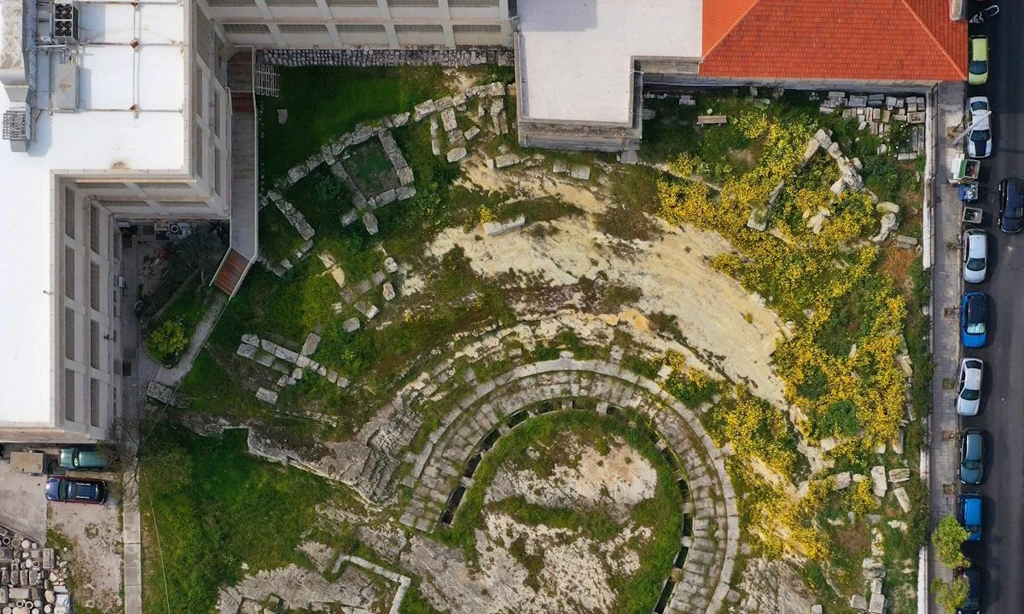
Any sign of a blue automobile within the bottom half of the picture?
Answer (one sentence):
Yes, a blue automobile is visible within the bottom half of the picture.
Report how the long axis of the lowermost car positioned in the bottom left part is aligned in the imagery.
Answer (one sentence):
From this overhead view, the lowermost car positioned in the bottom left part appears to run horizontally.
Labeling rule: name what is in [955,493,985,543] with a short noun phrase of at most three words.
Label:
car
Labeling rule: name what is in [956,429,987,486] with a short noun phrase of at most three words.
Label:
car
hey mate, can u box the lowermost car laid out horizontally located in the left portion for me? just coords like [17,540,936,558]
[47,475,109,504]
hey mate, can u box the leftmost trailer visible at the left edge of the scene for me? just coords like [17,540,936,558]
[0,449,46,475]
